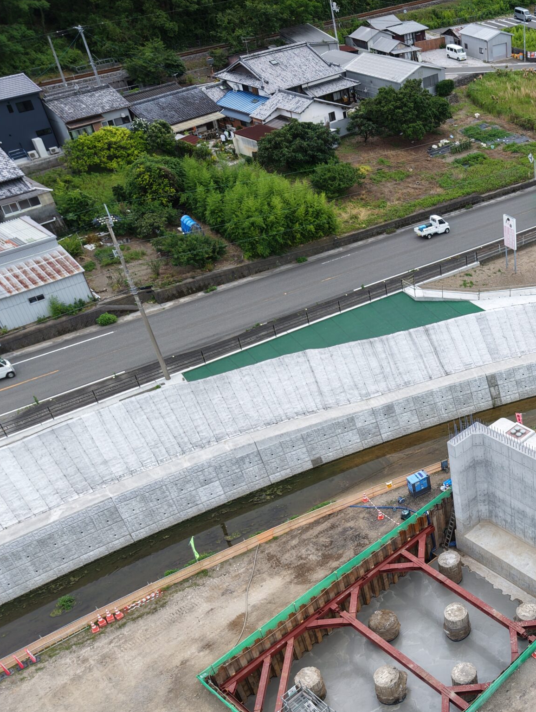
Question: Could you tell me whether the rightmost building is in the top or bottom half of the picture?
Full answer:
The rightmost building is in the top half of the image.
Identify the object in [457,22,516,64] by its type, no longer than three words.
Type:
building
